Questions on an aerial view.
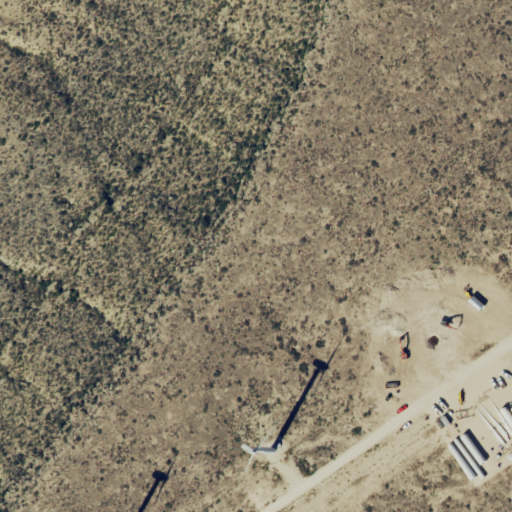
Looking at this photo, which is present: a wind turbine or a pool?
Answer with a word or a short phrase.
wind turbine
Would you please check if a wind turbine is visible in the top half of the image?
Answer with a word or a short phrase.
No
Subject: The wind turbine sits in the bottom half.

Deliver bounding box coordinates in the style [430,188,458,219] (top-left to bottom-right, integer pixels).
[239,418,280,492]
